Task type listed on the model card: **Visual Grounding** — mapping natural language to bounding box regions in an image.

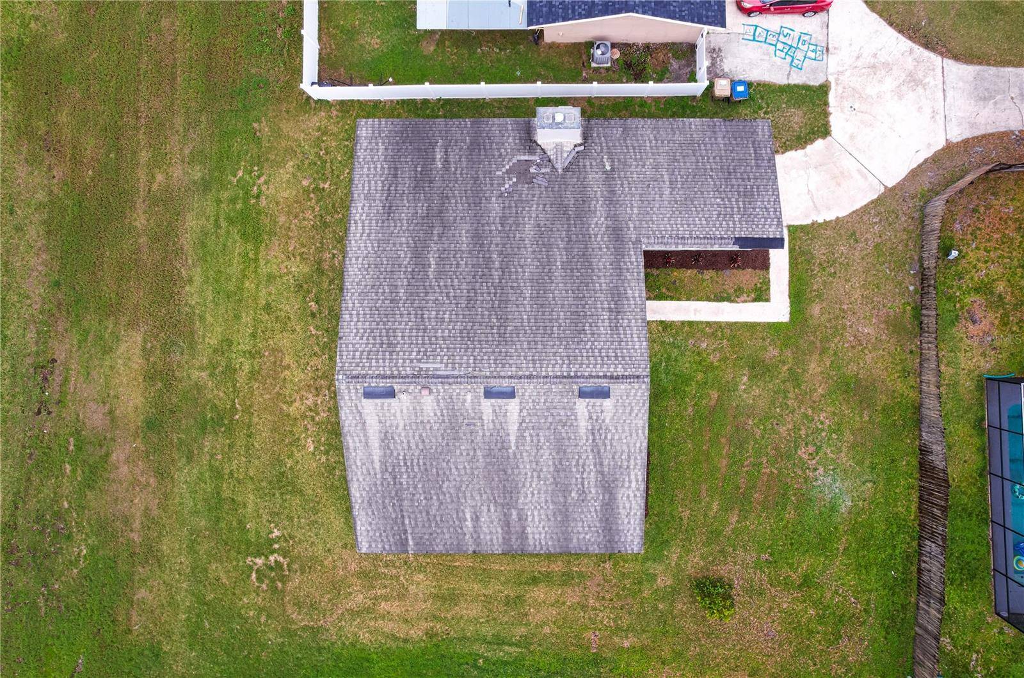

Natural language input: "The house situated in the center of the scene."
[337,104,785,554]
